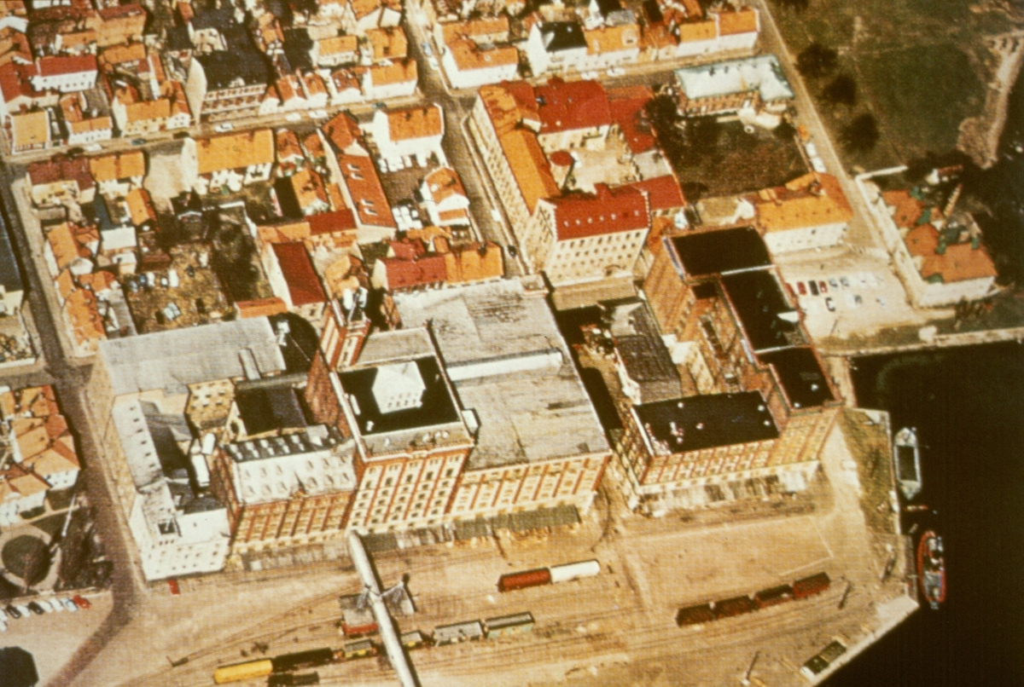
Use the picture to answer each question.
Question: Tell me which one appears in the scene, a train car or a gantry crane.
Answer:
train car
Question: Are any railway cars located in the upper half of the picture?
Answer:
No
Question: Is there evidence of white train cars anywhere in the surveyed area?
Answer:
Yes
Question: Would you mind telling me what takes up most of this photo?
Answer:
buildings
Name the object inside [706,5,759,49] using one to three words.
house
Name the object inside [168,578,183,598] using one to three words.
vehicle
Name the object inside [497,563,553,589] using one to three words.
rail car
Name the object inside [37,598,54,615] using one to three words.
car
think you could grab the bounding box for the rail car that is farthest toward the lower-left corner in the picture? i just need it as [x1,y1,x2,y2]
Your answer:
[213,654,275,683]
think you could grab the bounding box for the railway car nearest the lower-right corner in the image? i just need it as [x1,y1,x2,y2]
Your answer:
[792,570,834,595]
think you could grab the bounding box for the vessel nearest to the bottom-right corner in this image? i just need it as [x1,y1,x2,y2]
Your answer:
[918,528,947,612]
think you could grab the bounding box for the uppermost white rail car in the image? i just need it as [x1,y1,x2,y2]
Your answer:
[550,553,603,579]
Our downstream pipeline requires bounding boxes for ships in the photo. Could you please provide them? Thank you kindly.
[892,427,921,505]
[918,528,947,612]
